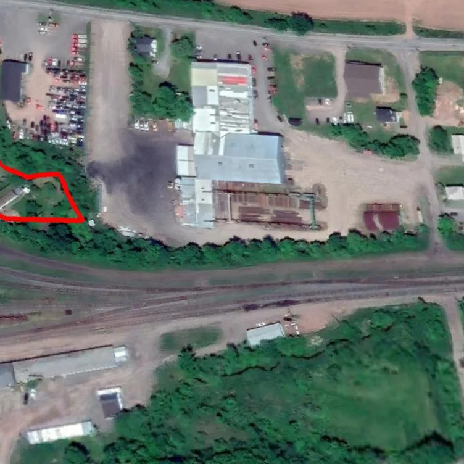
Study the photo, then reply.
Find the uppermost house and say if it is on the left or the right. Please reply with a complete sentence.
You can find the uppermost house on the left side of the picture.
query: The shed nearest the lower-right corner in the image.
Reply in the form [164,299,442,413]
[246,323,286,345]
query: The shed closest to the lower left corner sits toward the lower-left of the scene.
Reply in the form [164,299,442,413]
[27,421,95,443]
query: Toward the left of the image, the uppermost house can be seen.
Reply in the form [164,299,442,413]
[135,39,156,59]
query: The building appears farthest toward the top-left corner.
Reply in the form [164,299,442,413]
[0,61,31,103]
